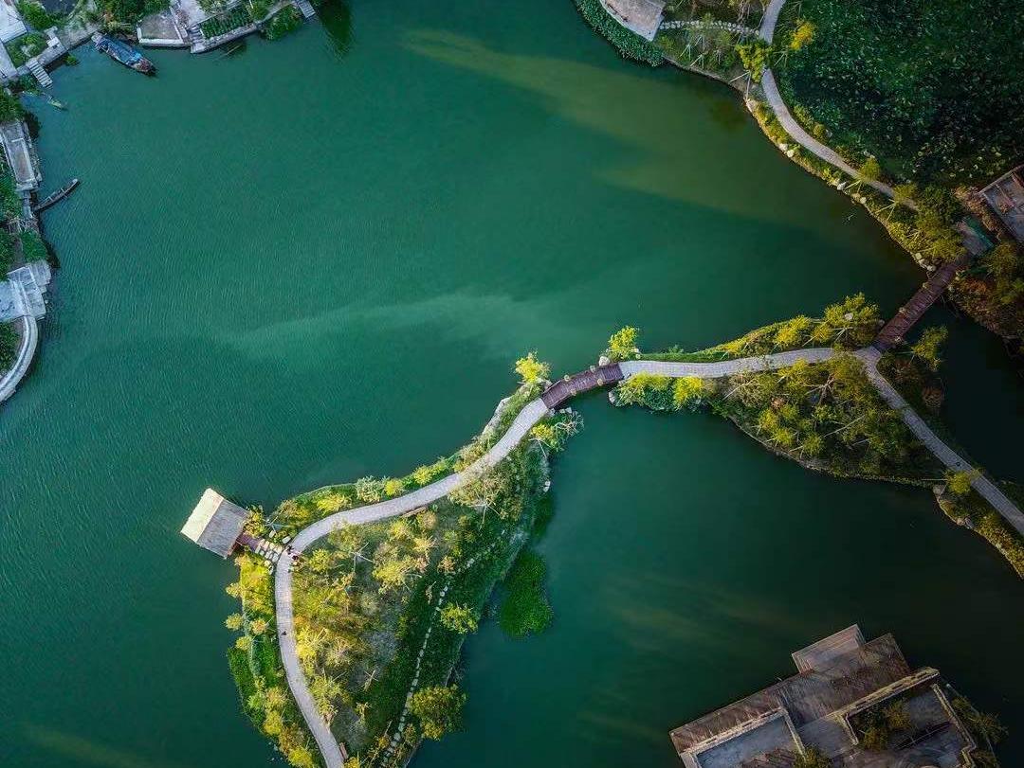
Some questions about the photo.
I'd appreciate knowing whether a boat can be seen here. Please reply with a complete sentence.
Yes, there is a boat in the image.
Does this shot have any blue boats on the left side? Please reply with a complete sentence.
Yes, I can see a blue boat on the left side.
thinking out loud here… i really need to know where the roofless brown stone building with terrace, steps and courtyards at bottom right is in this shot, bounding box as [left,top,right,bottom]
[668,623,976,768]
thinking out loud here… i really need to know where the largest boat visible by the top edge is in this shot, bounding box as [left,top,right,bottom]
[87,28,156,71]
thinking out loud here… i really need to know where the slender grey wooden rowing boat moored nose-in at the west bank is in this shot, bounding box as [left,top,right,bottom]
[33,178,77,207]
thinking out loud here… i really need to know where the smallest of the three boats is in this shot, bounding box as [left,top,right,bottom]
[41,92,67,109]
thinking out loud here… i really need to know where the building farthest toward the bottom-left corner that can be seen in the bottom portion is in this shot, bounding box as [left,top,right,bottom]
[182,489,251,556]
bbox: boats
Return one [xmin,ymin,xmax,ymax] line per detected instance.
[41,92,67,109]
[33,178,77,207]
[87,28,156,71]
